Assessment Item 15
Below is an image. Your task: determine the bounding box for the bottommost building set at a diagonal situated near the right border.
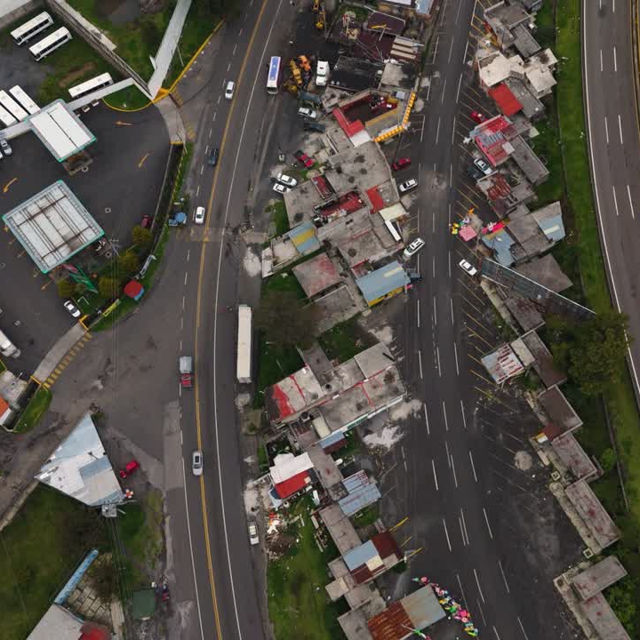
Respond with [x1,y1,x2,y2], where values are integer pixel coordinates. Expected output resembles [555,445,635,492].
[579,590,633,640]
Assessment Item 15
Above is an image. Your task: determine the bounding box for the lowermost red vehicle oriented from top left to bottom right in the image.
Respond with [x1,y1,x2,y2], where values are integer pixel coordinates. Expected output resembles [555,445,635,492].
[292,149,317,169]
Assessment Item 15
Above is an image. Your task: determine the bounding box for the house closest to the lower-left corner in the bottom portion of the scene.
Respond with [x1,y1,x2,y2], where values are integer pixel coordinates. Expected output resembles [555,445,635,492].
[31,602,89,640]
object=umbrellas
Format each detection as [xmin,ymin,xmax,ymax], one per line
[126,489,136,498]
[176,211,188,223]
